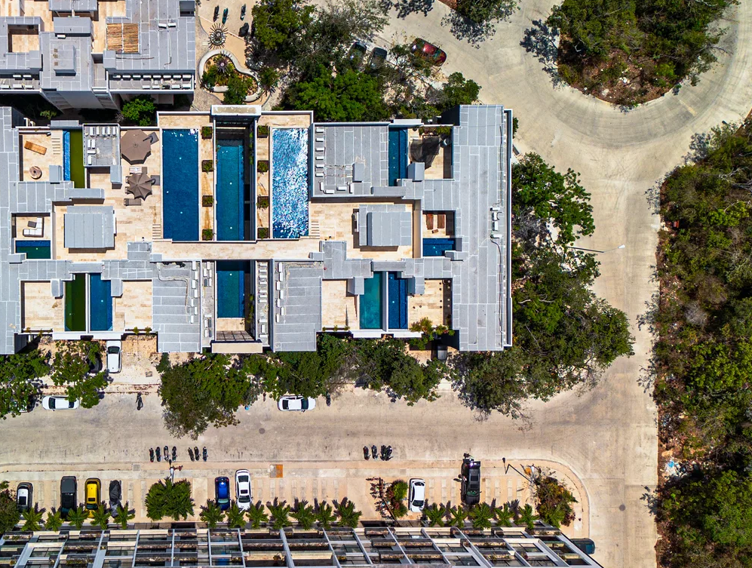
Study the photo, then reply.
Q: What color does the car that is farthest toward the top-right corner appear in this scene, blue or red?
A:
red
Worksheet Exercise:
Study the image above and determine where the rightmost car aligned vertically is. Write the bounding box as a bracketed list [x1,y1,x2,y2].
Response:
[462,461,484,507]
